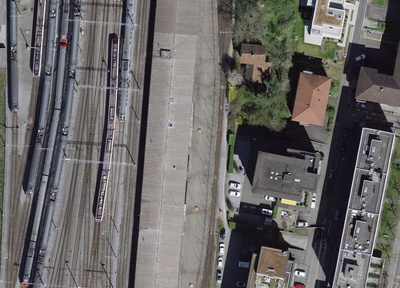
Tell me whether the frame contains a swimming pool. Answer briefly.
No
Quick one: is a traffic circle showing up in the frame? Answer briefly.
No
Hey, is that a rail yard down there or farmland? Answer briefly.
rail yard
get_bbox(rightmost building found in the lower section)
[332,128,394,288]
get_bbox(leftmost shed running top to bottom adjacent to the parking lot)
[134,0,198,288]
